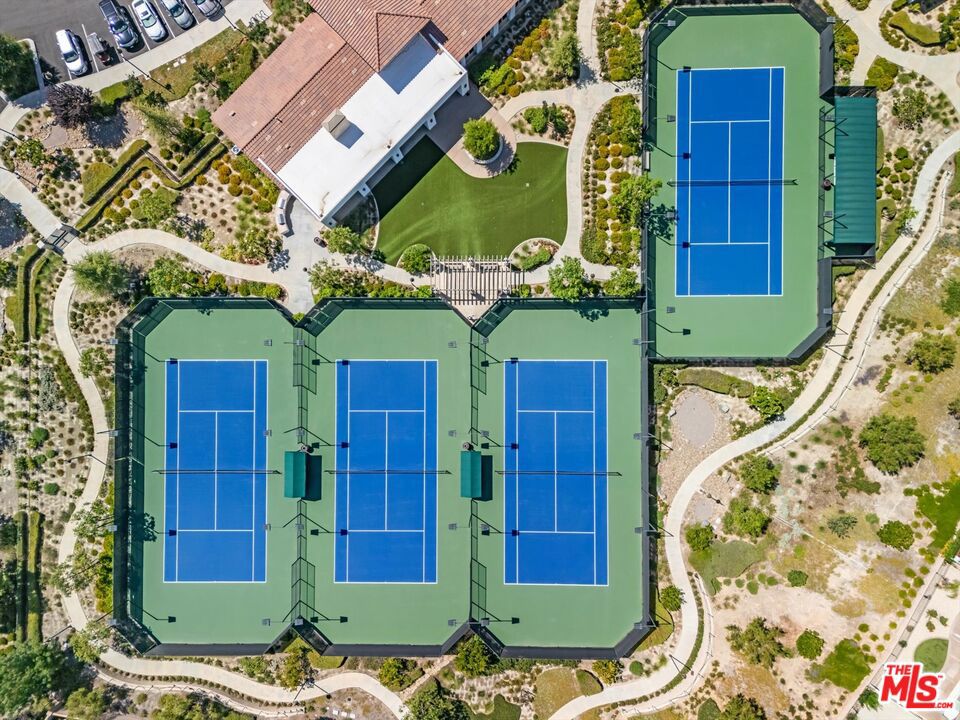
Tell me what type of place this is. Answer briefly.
sports ground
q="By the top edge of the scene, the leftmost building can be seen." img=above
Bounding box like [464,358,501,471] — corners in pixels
[210,0,520,231]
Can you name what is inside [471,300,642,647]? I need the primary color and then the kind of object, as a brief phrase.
green tennis court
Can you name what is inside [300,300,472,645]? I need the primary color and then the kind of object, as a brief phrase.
green tennis court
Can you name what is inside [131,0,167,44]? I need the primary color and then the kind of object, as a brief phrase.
white car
